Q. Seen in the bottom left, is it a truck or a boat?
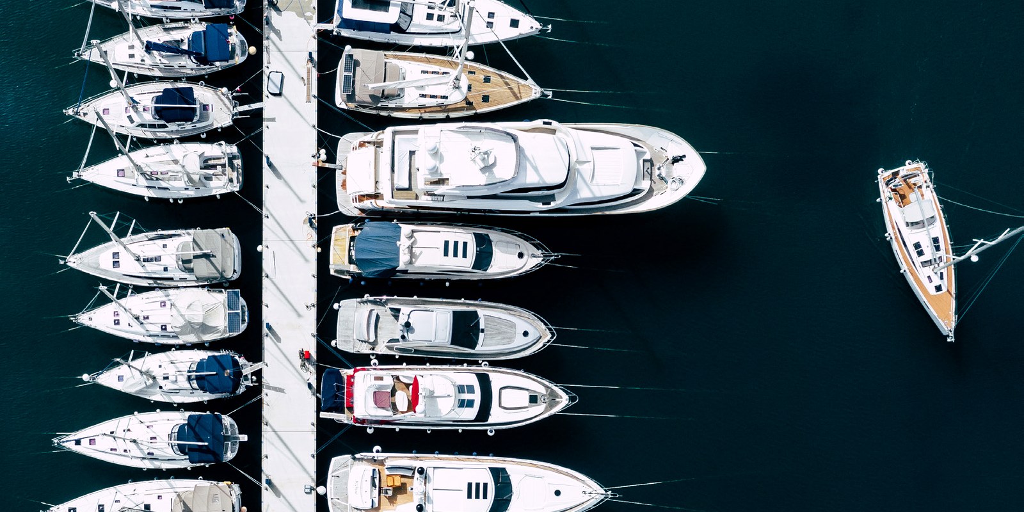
boat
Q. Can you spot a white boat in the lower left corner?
Yes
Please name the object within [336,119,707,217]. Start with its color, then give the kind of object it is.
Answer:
white boat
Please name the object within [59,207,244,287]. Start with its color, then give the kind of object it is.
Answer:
white boat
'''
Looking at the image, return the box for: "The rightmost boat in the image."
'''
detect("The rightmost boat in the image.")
[878,158,1024,342]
